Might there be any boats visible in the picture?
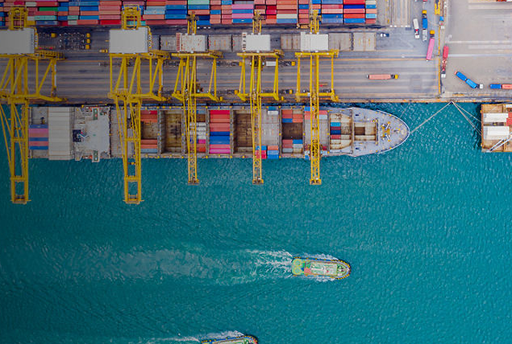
Yes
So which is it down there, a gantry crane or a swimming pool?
gantry crane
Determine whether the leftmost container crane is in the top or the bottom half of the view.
top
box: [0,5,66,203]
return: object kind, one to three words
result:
container crane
